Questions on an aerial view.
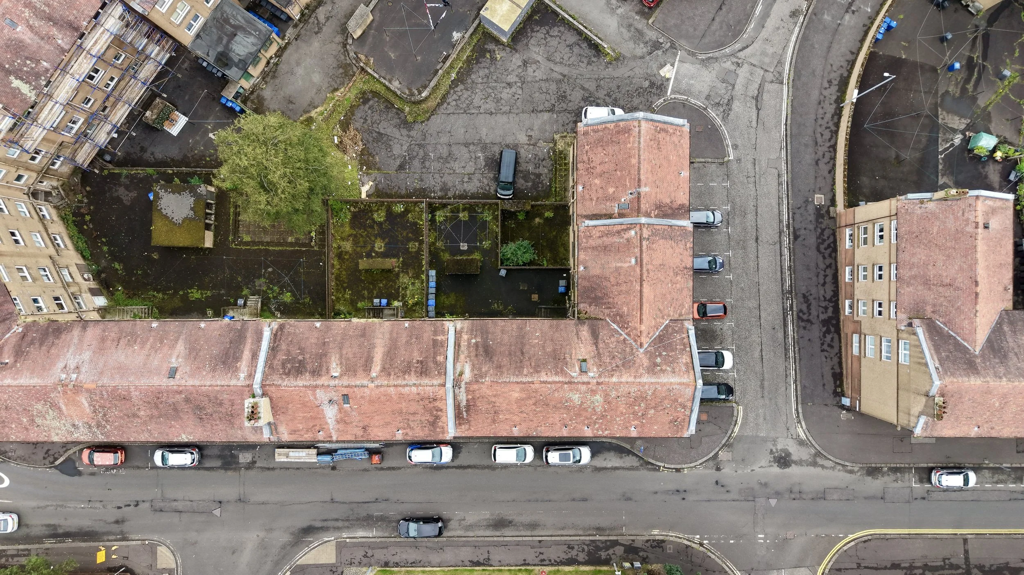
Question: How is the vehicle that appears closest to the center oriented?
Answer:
from top to bottom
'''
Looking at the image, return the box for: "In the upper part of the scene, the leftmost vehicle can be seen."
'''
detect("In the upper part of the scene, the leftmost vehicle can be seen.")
[494,147,518,200]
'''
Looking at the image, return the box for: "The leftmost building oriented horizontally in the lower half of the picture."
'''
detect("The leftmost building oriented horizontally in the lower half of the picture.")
[0,318,267,443]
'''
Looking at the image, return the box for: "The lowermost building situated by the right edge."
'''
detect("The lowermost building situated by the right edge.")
[851,309,1024,439]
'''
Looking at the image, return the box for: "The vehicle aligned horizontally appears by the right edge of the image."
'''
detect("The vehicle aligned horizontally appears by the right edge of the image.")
[928,466,975,490]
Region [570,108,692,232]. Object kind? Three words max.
building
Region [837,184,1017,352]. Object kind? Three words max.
building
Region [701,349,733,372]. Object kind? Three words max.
car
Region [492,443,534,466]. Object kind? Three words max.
car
